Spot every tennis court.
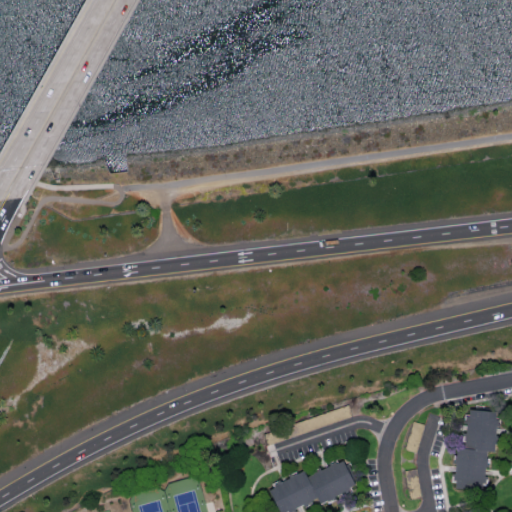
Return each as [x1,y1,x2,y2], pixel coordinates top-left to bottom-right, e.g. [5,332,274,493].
[166,479,206,512]
[131,490,169,512]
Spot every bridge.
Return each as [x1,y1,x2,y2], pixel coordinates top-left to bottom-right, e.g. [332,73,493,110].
[0,0,142,204]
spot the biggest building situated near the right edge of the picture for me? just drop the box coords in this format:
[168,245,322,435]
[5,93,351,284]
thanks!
[456,409,496,489]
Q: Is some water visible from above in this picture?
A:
Yes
